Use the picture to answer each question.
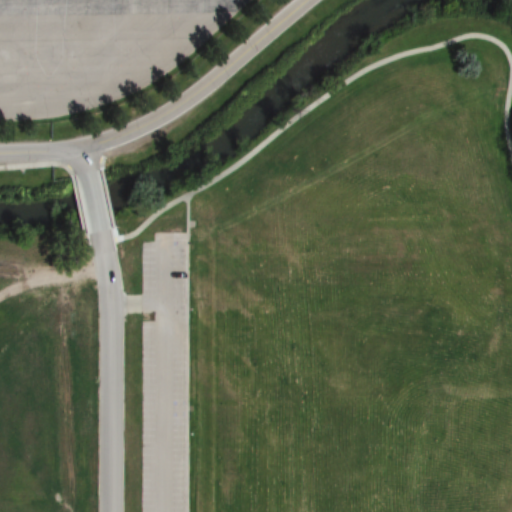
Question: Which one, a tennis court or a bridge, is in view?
bridge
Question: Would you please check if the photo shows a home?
No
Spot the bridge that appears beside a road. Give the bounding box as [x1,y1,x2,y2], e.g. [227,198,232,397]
[73,168,116,234]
